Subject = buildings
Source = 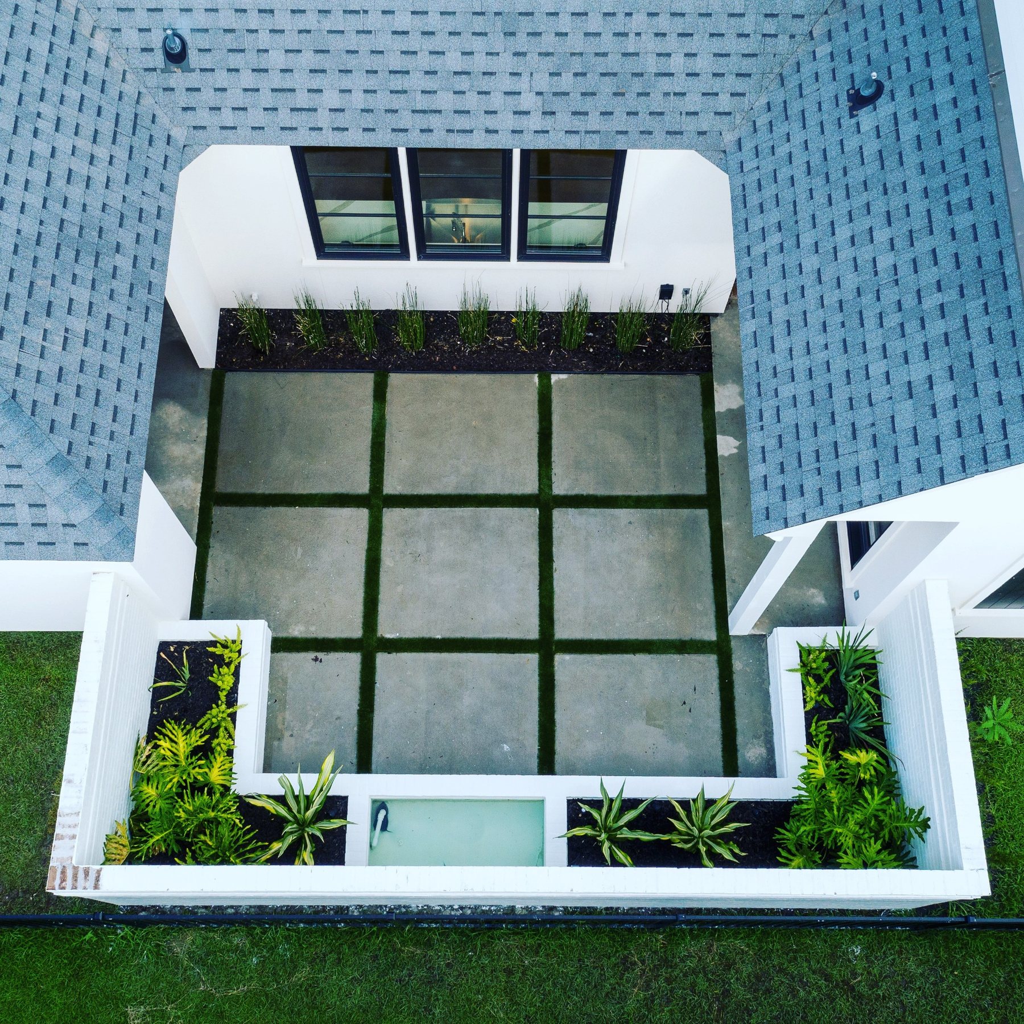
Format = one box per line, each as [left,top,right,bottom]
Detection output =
[0,0,1024,637]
